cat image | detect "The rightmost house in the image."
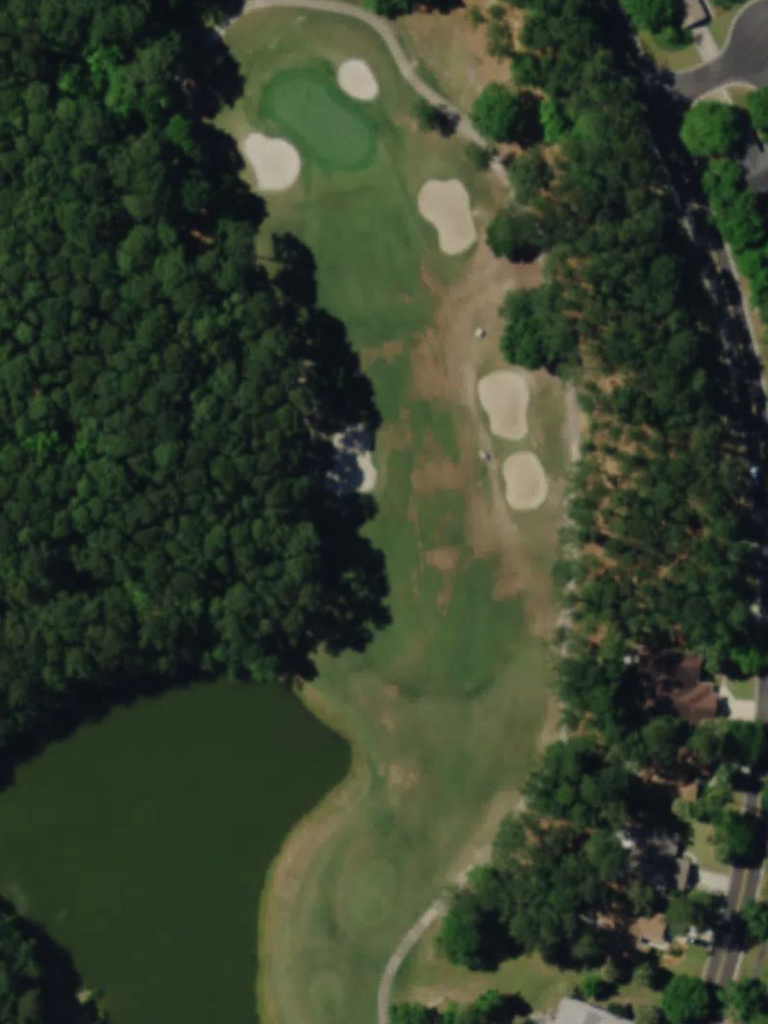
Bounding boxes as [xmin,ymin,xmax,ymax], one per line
[737,148,768,197]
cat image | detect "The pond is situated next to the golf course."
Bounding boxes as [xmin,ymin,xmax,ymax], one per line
[0,664,351,1024]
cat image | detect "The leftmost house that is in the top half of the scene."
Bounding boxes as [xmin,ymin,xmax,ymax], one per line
[672,0,708,29]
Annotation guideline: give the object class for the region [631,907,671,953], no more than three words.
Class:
house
